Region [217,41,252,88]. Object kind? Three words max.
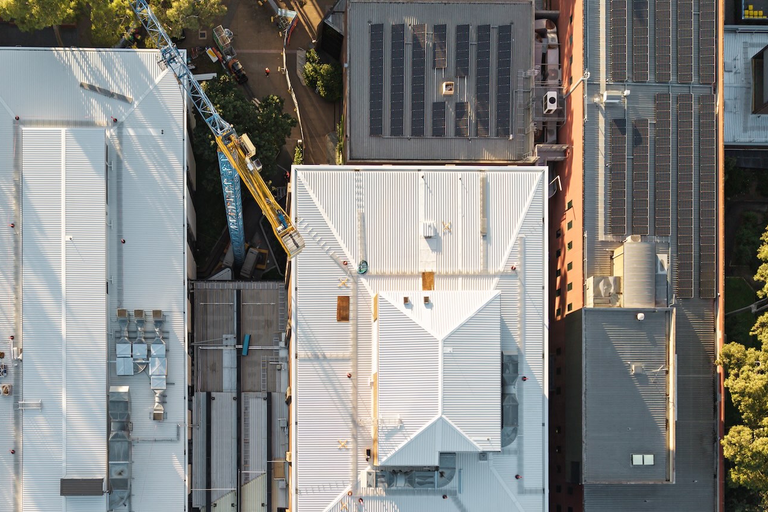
work vehicle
